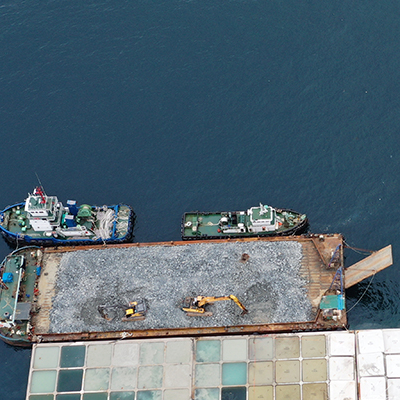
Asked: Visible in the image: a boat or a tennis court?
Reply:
boat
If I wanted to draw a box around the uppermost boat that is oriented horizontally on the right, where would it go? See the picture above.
[180,202,309,240]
